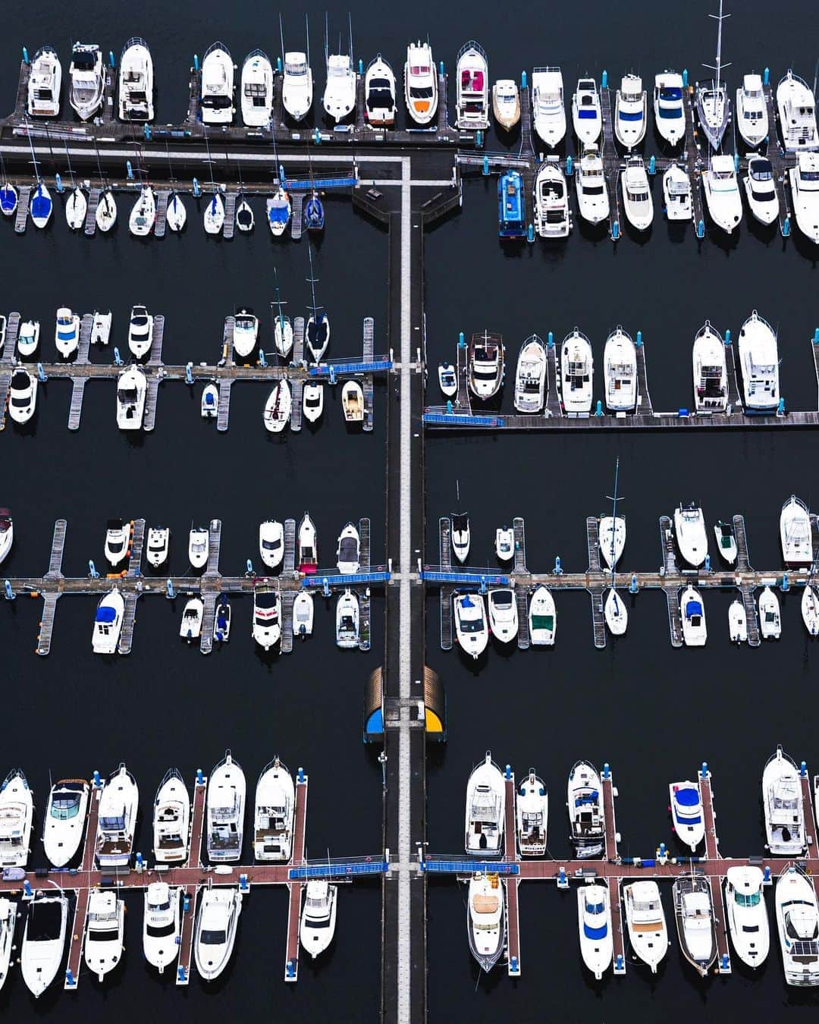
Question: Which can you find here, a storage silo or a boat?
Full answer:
Looking from above, you can make out a boat.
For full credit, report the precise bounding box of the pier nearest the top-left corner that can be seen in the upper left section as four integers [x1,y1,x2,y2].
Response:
[11,61,30,123]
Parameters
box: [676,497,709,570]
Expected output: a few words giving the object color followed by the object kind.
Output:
white boat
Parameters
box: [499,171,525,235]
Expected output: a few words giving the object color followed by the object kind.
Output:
blue ship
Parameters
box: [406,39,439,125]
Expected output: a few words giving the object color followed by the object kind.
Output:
white boat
